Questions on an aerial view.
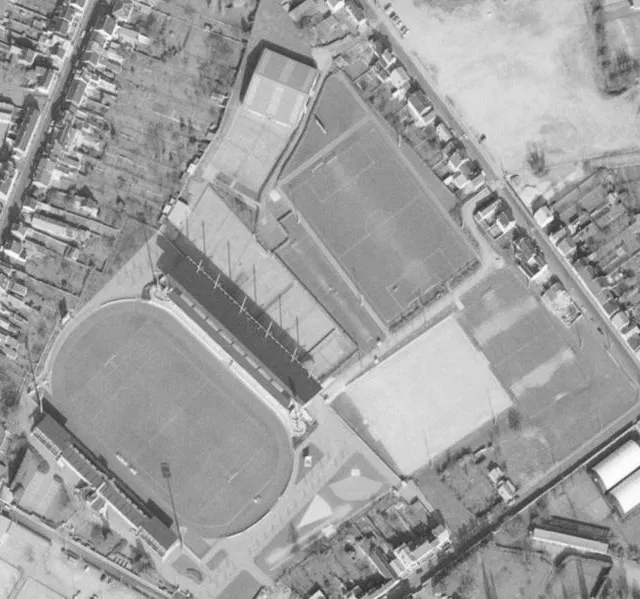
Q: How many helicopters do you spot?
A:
zero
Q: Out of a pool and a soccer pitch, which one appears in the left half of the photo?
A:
soccer pitch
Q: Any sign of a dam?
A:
No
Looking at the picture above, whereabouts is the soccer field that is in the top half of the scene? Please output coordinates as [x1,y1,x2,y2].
[288,126,474,326]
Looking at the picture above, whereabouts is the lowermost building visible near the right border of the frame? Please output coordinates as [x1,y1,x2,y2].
[531,521,610,554]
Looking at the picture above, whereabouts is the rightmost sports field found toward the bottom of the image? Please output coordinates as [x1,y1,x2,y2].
[345,315,512,475]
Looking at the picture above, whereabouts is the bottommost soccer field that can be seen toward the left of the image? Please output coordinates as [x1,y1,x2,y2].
[72,321,271,518]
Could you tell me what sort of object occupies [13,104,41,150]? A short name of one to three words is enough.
house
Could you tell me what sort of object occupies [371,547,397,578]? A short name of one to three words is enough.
house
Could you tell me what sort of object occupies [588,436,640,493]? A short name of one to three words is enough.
shed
